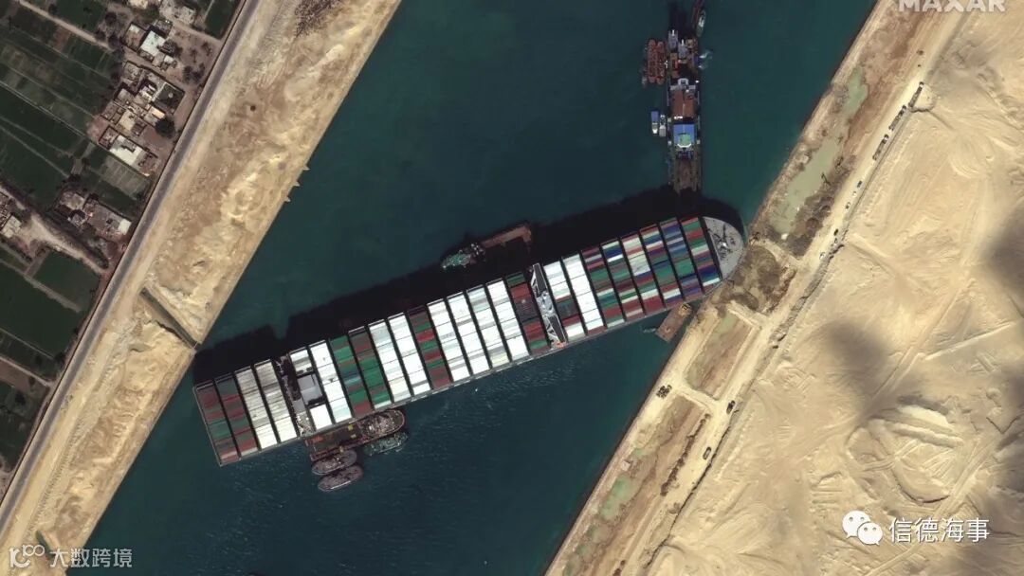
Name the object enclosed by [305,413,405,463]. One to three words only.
ship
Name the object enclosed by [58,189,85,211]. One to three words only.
house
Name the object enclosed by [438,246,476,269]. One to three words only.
boat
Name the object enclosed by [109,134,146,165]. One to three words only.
house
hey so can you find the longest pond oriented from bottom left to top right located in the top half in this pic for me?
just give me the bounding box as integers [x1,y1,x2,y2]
[772,135,845,234]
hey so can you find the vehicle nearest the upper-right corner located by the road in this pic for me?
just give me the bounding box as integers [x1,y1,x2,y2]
[910,82,923,107]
